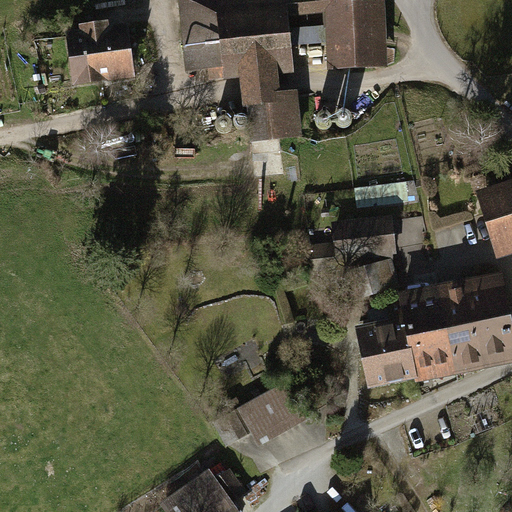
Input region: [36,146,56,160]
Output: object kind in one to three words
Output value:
vehicle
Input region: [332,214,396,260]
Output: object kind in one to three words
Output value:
shed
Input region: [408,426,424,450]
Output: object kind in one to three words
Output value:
car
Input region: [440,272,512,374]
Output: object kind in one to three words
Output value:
house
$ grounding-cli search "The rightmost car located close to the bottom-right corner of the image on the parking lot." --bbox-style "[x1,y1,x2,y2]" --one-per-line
[437,416,451,440]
